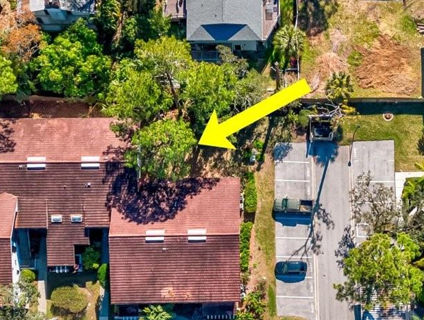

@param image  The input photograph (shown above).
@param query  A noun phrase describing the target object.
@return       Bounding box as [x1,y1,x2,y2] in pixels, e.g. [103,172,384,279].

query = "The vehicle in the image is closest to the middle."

[273,197,313,213]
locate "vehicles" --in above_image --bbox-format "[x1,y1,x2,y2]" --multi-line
[274,261,307,277]
[273,197,313,213]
